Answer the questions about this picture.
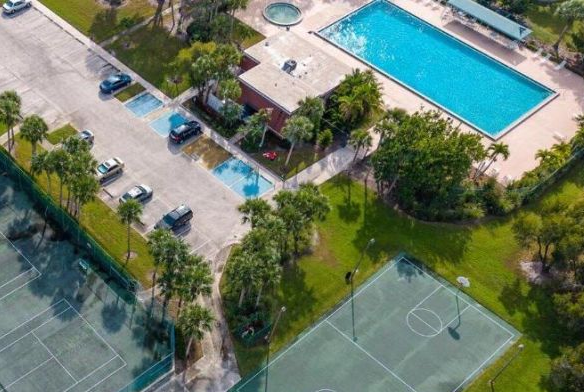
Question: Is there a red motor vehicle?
No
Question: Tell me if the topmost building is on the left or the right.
right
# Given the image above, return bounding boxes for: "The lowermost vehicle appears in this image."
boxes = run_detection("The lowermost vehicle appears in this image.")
[155,201,196,231]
